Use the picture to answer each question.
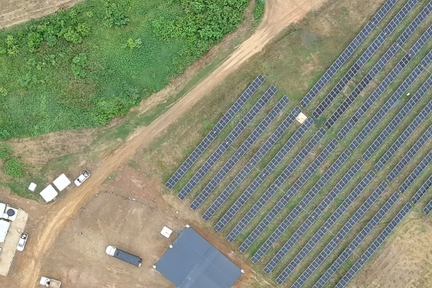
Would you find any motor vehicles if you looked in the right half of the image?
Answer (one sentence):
No, I see no motor vehicle in the right half of the image.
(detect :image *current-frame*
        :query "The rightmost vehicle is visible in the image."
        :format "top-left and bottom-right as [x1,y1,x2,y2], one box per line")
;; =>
[106,246,143,266]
